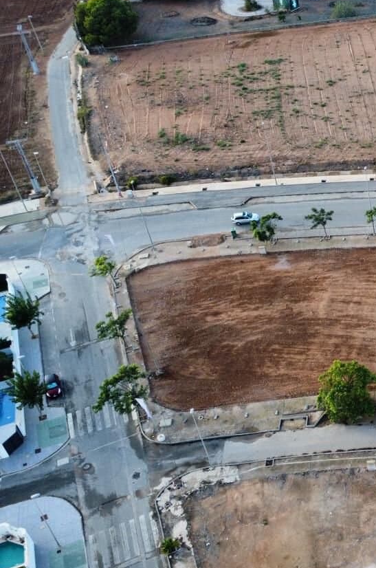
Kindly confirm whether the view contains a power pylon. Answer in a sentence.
Yes, you can see a power pylon in this photo.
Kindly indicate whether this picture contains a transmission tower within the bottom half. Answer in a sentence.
No, the scene shows no transmission tower within the bottom half.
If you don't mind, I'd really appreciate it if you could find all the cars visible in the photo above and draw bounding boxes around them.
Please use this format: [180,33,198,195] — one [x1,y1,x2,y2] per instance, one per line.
[227,212,261,225]
[37,373,67,403]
